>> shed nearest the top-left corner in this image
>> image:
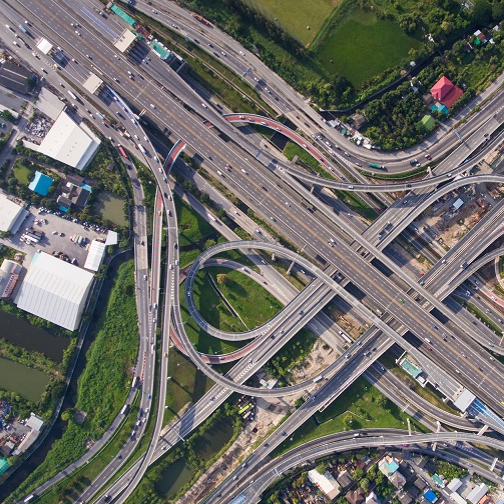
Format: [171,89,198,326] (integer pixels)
[1,65,42,95]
